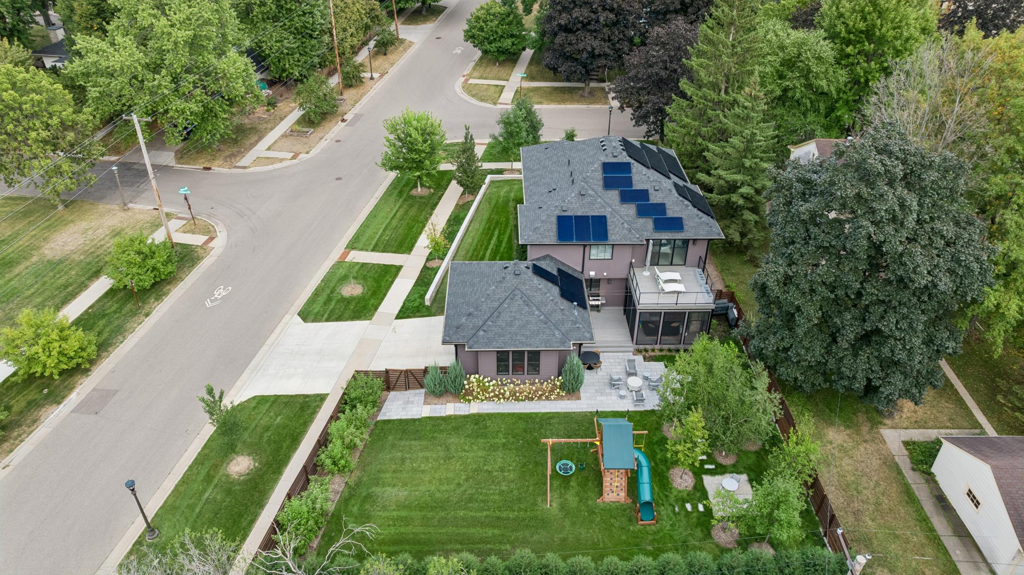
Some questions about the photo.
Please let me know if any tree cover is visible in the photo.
Yes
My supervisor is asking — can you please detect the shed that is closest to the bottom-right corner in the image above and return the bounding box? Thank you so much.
[931,430,1024,575]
